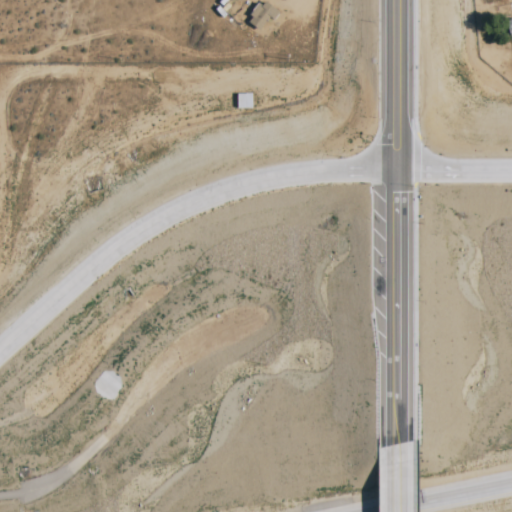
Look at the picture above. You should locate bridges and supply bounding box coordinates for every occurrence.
[378,439,420,512]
